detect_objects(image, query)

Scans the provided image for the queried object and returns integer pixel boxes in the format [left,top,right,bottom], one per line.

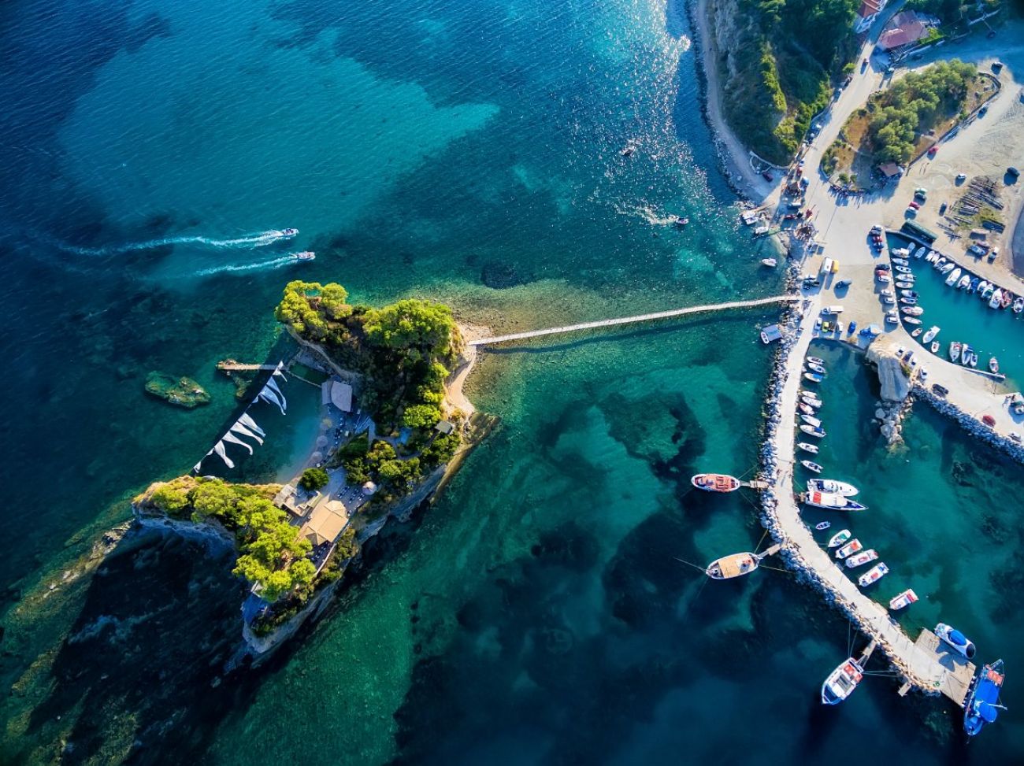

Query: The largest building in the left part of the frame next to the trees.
[303,495,348,547]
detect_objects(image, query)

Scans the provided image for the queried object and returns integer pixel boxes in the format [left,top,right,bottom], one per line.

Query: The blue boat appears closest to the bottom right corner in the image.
[964,663,1009,741]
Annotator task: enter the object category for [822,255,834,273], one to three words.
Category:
vehicle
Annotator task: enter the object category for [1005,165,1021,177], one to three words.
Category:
vehicle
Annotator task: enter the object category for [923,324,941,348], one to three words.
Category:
boat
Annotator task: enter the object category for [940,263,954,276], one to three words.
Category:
boat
